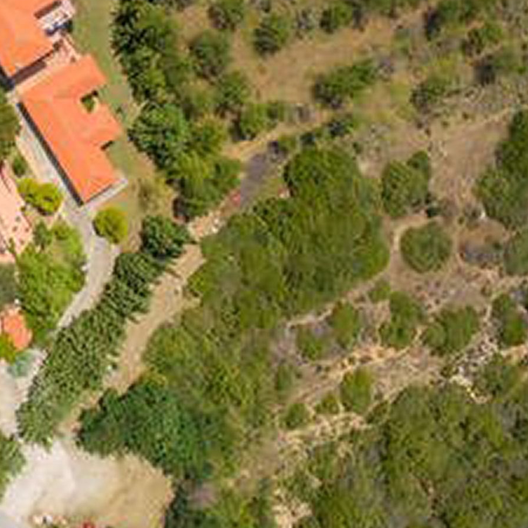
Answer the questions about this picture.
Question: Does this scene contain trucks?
No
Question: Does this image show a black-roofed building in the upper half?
No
